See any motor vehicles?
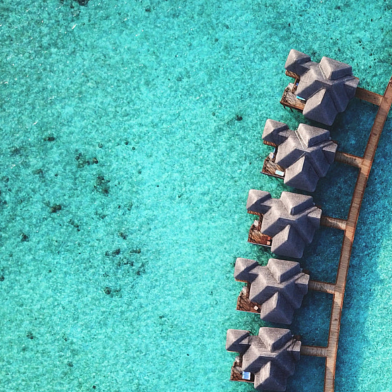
No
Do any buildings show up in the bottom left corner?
No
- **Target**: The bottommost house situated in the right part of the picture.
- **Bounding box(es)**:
[228,327,306,389]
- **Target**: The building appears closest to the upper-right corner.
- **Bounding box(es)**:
[280,50,364,124]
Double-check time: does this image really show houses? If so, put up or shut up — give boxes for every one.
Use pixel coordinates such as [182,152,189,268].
[236,257,314,321]
[260,121,341,189]
[280,50,364,124]
[243,190,323,255]
[228,327,306,389]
